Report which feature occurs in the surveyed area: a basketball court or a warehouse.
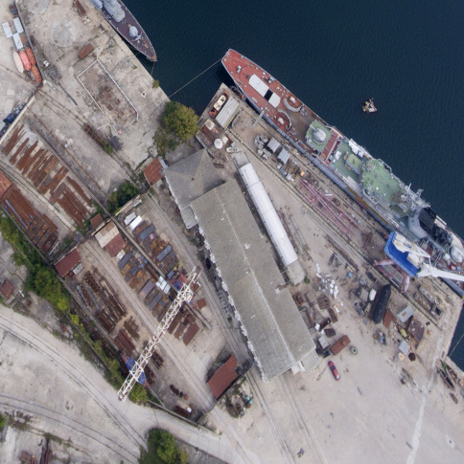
warehouse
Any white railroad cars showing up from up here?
No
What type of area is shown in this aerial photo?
port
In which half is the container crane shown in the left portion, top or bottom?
bottom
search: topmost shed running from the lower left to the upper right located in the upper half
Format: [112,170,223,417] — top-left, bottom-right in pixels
[213,97,239,129]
